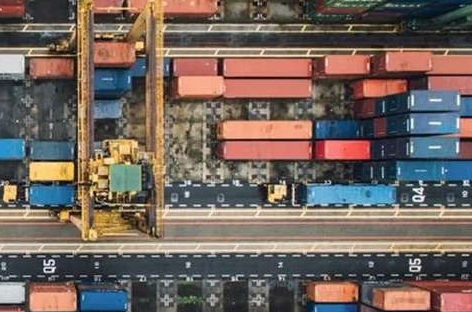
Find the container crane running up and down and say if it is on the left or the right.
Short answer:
left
